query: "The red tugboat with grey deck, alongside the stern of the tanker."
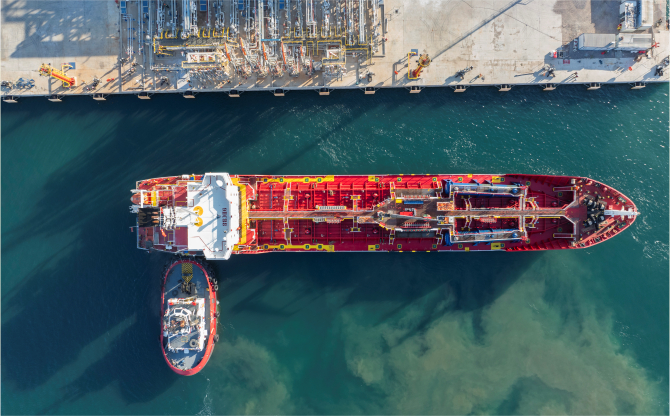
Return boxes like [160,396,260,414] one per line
[158,258,221,375]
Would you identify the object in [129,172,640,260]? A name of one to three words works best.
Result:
ship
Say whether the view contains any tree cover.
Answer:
No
